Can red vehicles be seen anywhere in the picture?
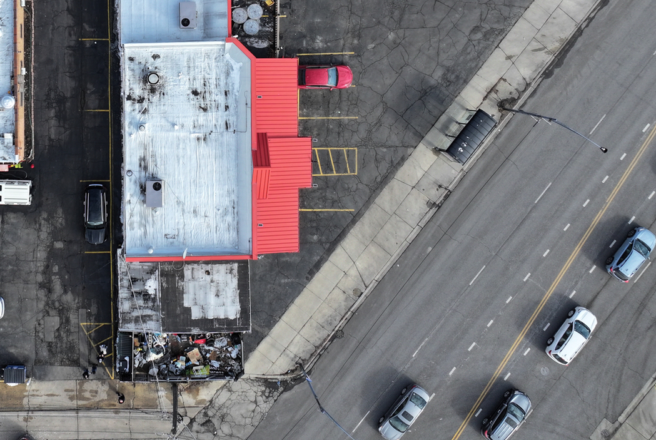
Yes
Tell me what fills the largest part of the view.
paved ground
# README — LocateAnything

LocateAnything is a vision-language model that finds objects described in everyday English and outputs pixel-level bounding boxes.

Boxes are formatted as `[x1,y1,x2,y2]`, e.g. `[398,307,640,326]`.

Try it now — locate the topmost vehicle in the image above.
[299,63,353,92]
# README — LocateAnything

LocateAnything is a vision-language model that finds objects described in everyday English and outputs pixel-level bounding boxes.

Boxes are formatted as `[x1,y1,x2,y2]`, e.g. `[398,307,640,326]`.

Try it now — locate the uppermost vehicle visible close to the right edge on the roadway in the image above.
[606,228,654,282]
